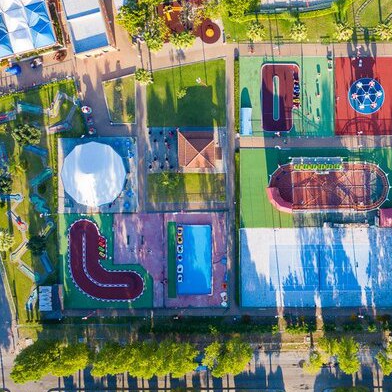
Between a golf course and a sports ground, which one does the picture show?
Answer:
sports ground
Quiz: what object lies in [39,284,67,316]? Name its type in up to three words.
shed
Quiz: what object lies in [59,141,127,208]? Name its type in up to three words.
tent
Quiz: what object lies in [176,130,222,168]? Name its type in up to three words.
house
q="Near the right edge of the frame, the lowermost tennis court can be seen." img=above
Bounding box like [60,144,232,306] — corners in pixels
[240,228,392,308]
